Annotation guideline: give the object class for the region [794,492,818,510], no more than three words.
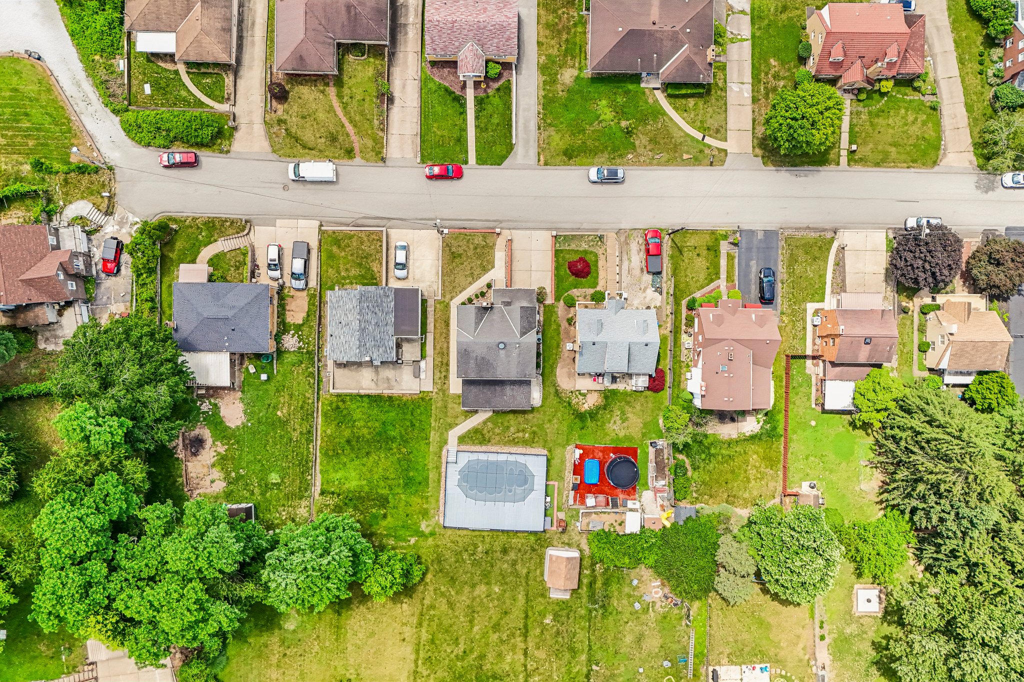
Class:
shed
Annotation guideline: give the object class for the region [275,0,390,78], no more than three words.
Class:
house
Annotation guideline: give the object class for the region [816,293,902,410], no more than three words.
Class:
house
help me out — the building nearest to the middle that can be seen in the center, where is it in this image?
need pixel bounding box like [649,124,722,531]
[455,279,539,409]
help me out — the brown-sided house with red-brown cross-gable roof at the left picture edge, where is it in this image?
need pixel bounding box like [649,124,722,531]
[0,221,91,325]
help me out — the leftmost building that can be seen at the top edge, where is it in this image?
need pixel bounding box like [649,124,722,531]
[125,0,240,69]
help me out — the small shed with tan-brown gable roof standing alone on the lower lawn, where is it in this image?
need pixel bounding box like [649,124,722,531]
[547,550,579,599]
